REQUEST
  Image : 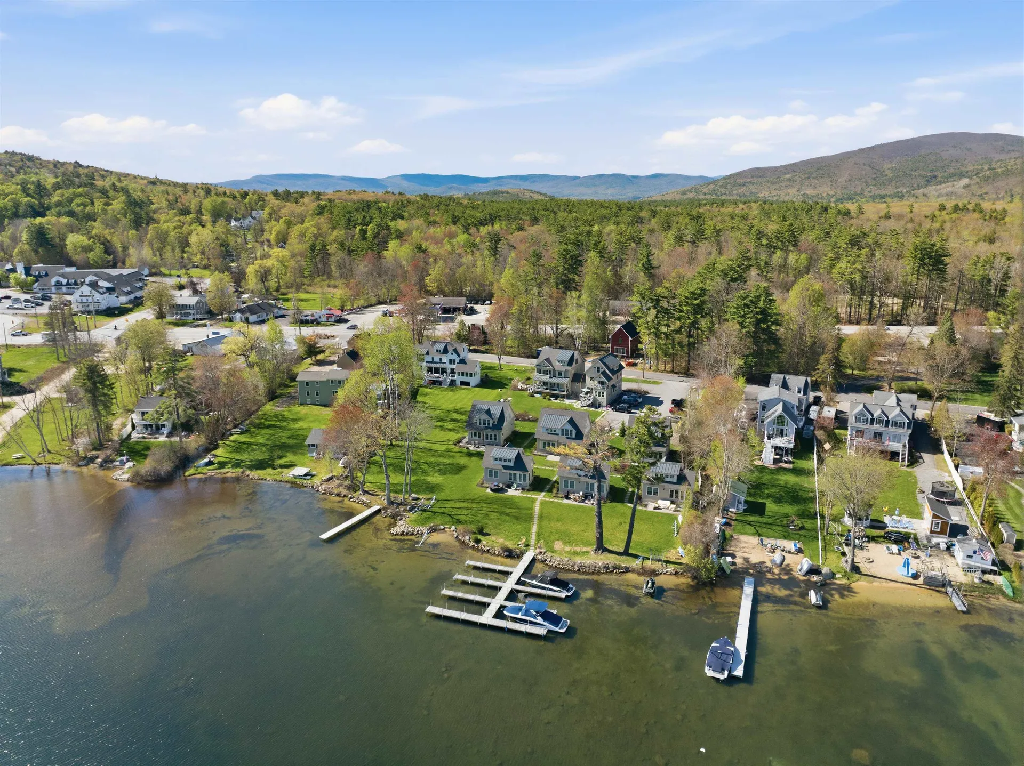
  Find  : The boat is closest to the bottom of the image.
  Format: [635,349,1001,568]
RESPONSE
[705,634,734,687]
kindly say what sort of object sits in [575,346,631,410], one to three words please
house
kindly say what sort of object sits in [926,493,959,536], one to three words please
shed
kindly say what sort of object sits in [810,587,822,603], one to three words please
boat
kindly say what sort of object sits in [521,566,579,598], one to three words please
boat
